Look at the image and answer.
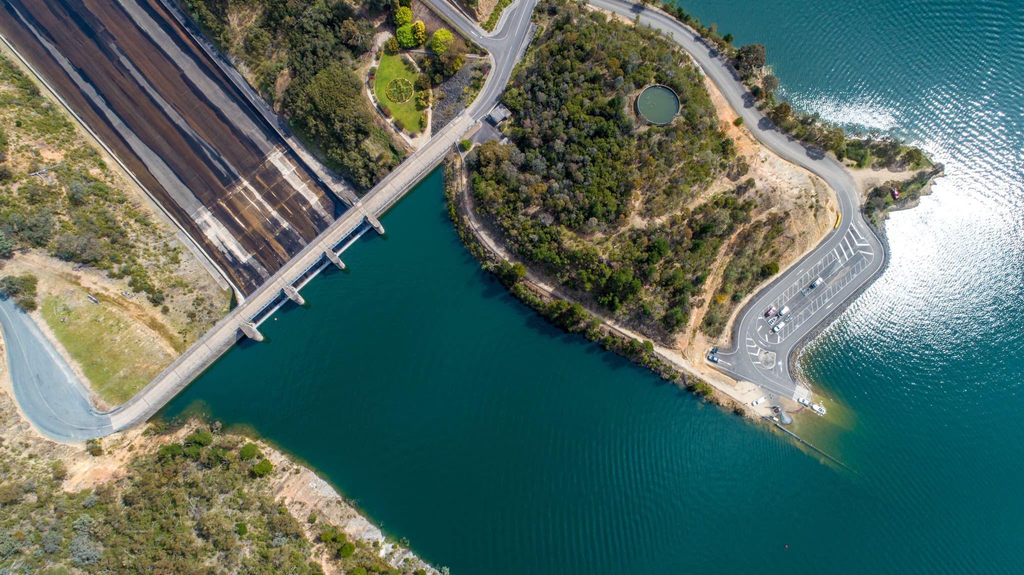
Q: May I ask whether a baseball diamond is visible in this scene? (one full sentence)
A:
No, no baseball diamond is visible in the scene.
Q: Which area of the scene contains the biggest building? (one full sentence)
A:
You can find the biggest building in the top area of the picture.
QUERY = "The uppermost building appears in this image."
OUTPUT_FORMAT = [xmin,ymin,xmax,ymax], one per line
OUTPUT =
[487,104,511,127]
